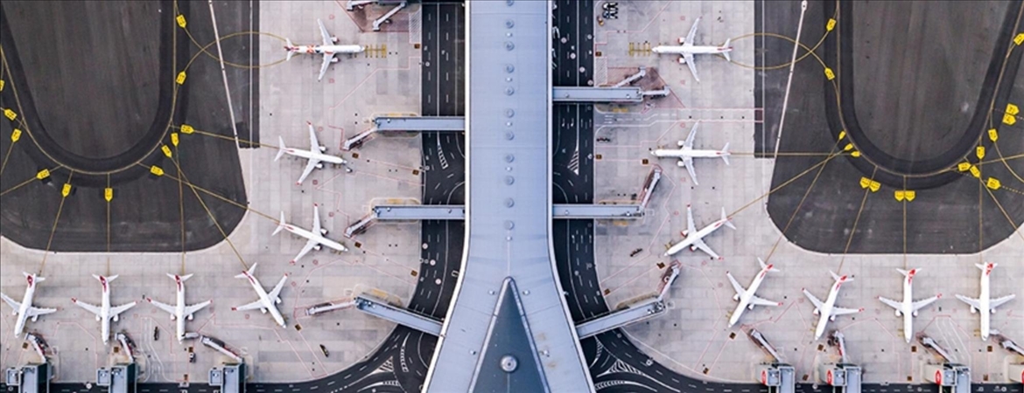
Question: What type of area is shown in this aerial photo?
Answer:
airport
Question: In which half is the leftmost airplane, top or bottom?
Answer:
bottom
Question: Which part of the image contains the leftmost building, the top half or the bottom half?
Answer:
bottom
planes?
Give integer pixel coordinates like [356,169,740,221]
[803,273,864,341]
[878,271,943,343]
[726,259,783,327]
[276,121,347,184]
[954,265,1015,341]
[665,203,735,259]
[651,19,731,78]
[275,203,347,262]
[231,264,285,327]
[0,273,56,337]
[72,277,136,344]
[651,124,731,182]
[286,19,365,78]
[147,276,211,344]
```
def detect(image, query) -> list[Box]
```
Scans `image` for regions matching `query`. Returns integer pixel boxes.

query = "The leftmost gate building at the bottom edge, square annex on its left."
[6,362,56,393]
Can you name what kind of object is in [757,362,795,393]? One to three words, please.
building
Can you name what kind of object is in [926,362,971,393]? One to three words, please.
building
